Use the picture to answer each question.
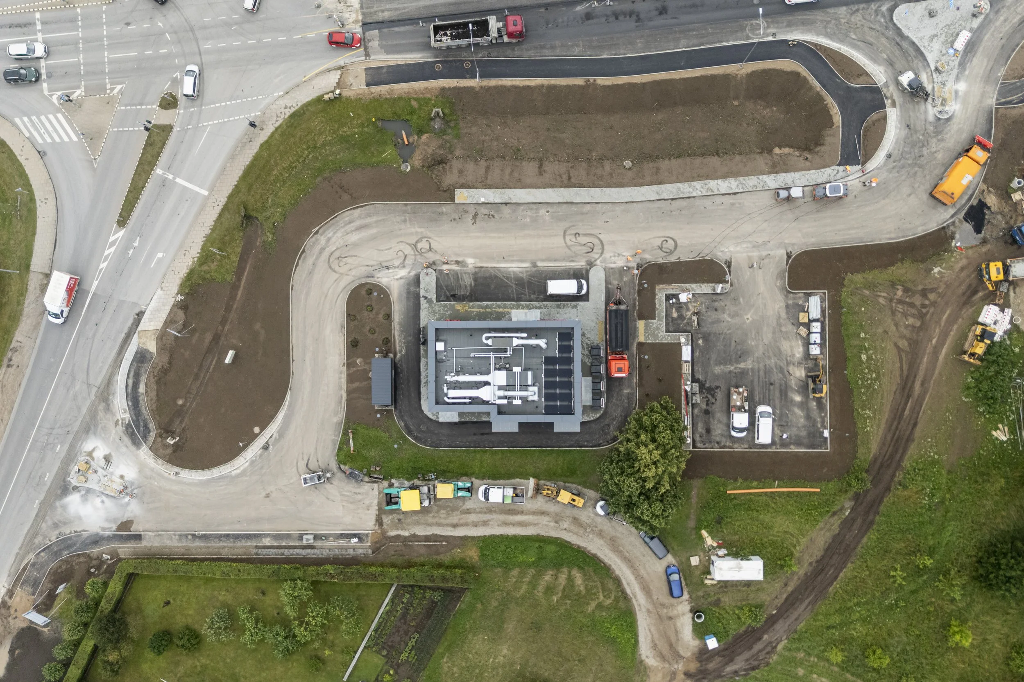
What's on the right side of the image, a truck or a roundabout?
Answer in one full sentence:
What appears on the right side of the image is a truck.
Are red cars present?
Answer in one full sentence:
Yes, the photo shows a red car.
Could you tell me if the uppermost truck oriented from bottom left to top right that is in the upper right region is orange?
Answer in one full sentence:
Yes, the uppermost truck oriented from bottom left to top right that is in the upper right region appears orange.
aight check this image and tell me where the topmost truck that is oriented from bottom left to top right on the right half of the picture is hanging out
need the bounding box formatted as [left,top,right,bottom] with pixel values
[921,136,992,214]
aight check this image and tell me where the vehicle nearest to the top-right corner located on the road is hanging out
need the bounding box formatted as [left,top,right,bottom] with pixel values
[891,69,932,108]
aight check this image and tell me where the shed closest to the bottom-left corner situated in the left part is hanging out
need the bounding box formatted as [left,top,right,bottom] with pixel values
[372,358,394,404]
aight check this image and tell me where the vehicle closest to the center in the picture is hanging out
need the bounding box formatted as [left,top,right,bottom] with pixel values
[547,277,587,297]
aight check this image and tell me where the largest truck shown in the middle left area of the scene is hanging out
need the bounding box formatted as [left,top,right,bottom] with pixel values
[35,268,77,324]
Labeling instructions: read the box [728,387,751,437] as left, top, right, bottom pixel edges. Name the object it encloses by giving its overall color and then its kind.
white truck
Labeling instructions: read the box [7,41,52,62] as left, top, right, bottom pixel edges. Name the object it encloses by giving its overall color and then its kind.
white car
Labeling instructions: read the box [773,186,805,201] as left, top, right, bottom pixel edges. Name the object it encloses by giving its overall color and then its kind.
white work vehicle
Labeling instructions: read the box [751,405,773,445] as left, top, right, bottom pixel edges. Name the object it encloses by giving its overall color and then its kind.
white vehicle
